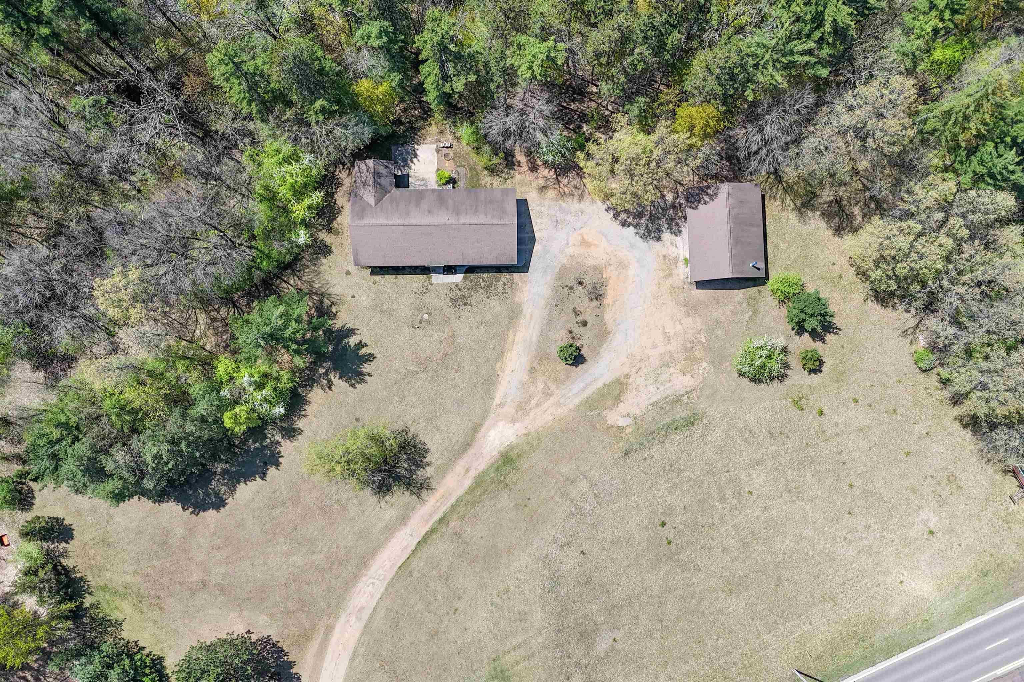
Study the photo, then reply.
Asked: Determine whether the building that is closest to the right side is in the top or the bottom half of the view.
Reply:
top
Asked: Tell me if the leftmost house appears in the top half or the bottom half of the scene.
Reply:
top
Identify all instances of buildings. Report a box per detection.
[349,159,517,267]
[681,182,766,284]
